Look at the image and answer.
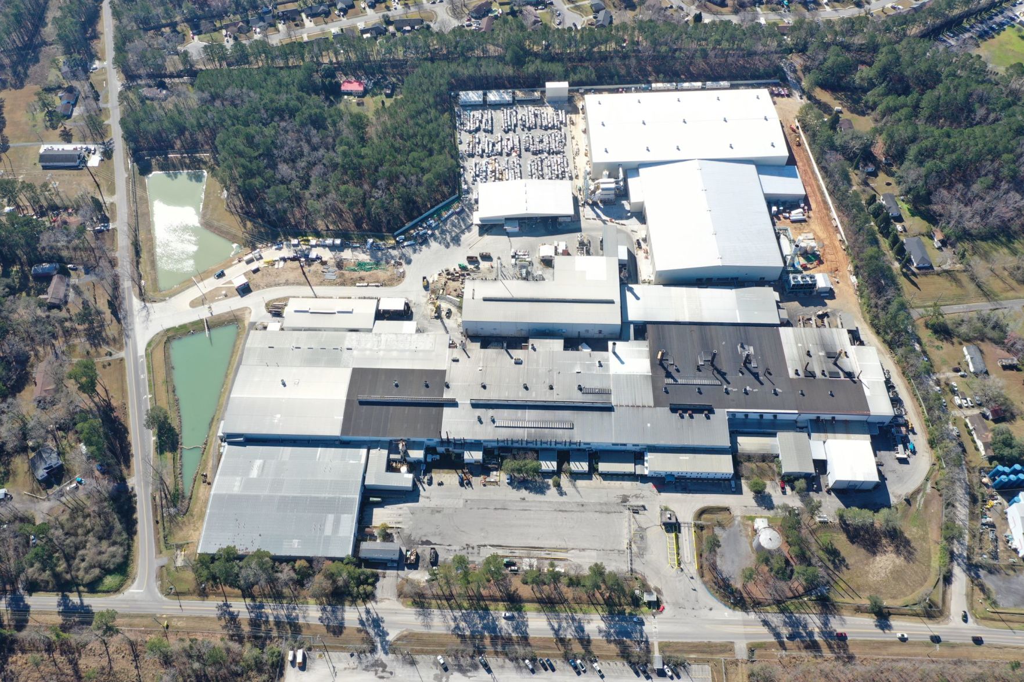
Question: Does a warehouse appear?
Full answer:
Yes, a warehouse is visible in the scene.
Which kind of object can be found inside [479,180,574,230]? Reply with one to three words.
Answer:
shed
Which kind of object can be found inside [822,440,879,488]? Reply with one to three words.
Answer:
building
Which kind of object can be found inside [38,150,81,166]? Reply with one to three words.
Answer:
house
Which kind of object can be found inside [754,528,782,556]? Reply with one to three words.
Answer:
water tank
